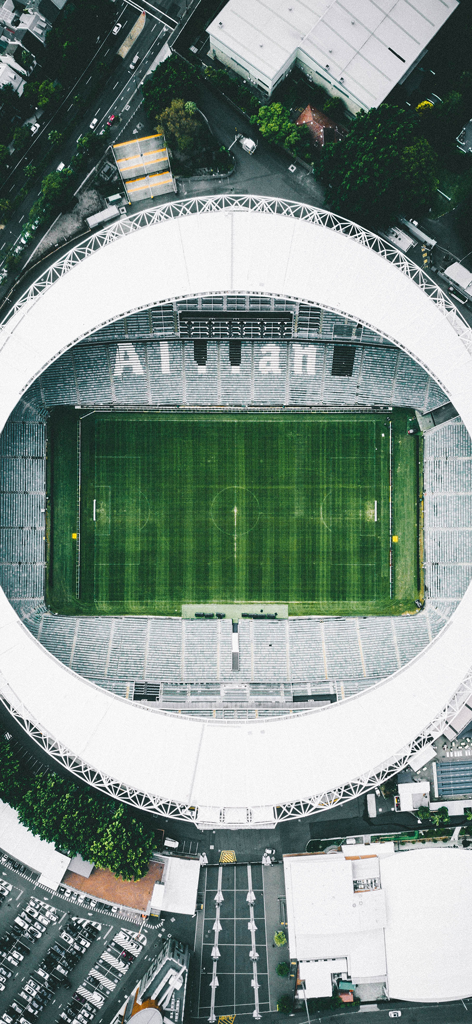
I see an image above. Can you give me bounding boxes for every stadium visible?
[0,195,472,831]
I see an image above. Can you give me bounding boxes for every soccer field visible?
[44,406,426,623]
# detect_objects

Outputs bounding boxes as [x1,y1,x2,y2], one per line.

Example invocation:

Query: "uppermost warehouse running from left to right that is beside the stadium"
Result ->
[206,0,466,119]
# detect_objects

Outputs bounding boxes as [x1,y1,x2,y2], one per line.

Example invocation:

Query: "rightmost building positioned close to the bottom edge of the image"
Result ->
[379,844,472,1006]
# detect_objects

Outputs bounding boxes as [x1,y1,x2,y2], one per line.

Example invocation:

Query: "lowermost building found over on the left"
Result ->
[107,940,190,1024]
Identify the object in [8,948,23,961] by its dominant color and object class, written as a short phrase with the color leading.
white vehicle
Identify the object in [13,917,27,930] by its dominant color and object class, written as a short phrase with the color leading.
white vehicle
